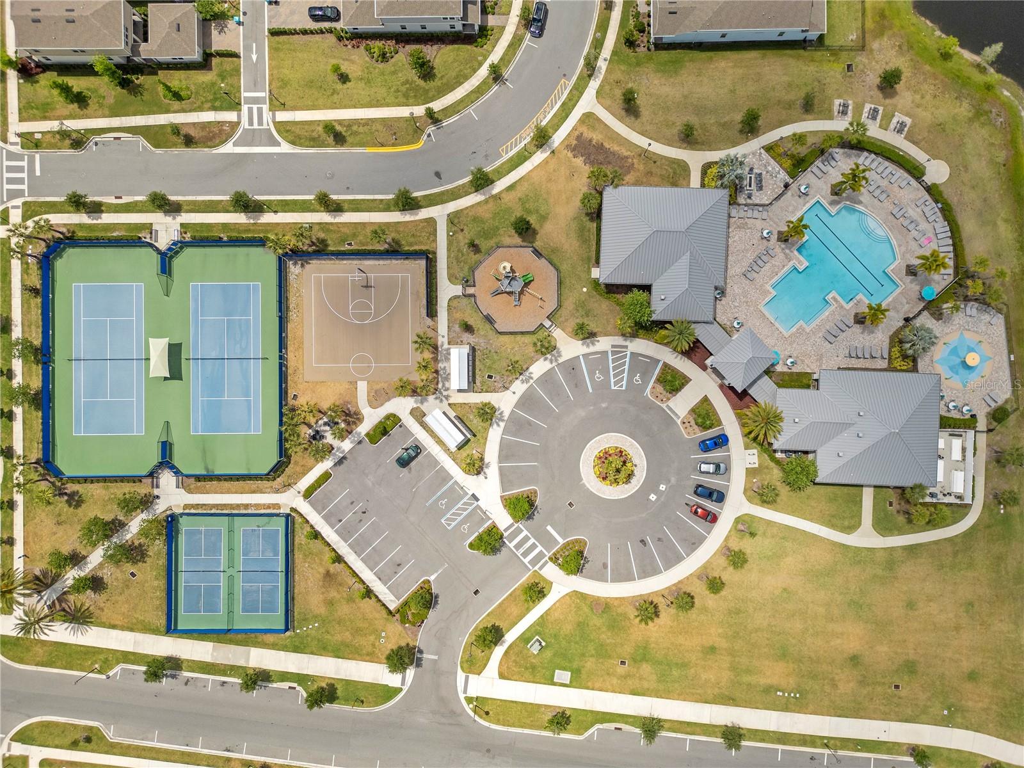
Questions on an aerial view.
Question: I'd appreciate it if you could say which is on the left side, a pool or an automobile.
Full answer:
It is an automobile that can be seen on the left side.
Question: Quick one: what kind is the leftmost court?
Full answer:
The leftmost court in the image is a tennis court.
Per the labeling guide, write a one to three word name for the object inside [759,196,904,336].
swimming pool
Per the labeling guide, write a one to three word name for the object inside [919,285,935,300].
umbrella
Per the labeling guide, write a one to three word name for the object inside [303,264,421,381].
basketball court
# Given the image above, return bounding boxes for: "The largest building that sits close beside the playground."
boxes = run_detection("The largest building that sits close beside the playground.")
[591,186,727,322]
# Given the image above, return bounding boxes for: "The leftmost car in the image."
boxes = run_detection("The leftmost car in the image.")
[308,3,339,20]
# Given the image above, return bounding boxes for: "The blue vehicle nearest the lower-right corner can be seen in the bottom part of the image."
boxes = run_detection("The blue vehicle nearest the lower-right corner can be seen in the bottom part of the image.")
[693,484,726,503]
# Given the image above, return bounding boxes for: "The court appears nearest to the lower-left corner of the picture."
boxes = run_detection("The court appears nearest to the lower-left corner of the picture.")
[177,528,226,614]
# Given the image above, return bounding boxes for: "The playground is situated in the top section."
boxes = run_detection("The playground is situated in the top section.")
[463,246,558,332]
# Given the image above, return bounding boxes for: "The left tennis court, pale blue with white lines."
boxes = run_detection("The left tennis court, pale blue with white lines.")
[67,284,144,435]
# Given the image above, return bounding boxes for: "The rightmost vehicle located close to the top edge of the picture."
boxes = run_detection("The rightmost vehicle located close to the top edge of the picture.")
[530,1,548,37]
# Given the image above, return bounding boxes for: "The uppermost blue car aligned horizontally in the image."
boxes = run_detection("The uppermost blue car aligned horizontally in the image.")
[698,435,729,452]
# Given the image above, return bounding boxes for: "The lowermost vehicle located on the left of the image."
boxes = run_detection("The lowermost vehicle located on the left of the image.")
[394,443,422,469]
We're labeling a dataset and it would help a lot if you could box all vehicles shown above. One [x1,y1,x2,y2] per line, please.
[394,443,422,469]
[530,1,548,37]
[308,3,339,20]
[698,435,729,452]
[693,484,726,503]
[689,503,718,524]
[697,462,728,477]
